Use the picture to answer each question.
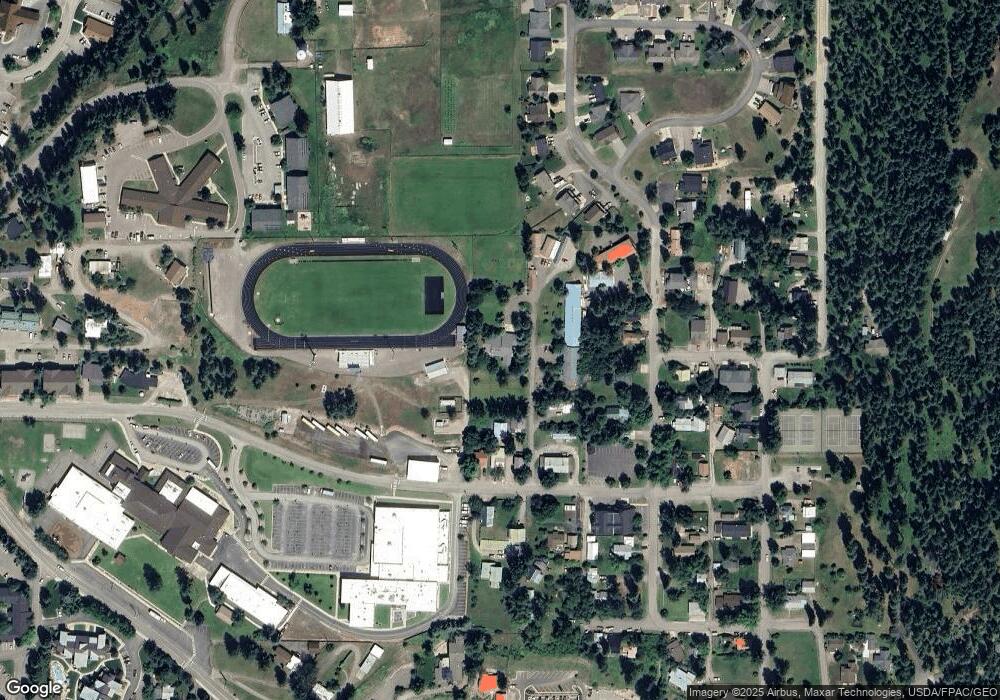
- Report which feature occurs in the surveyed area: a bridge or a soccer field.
soccer field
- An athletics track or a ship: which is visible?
athletics track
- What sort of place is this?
residential area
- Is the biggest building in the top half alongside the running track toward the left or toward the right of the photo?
left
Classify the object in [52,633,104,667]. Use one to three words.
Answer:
building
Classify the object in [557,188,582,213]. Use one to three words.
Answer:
house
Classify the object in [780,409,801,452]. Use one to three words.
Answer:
tennis court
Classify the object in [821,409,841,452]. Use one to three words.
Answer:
tennis court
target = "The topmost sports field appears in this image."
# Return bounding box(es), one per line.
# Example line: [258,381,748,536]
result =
[388,157,520,236]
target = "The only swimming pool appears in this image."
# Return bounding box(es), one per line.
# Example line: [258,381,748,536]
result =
[50,660,64,681]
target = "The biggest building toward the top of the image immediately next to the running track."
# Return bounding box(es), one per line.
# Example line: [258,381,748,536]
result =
[117,151,229,227]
